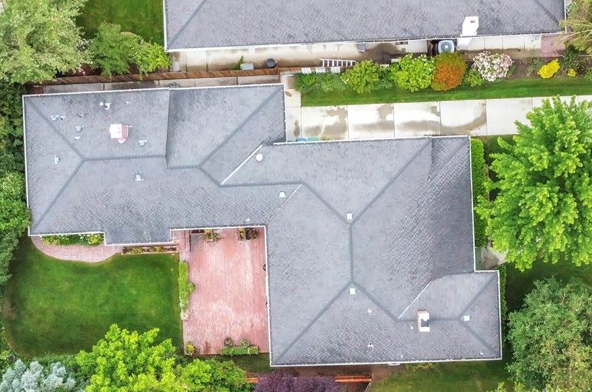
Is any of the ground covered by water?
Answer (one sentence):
No, no water is visible.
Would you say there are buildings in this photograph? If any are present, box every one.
[162,0,567,54]
[21,81,504,367]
